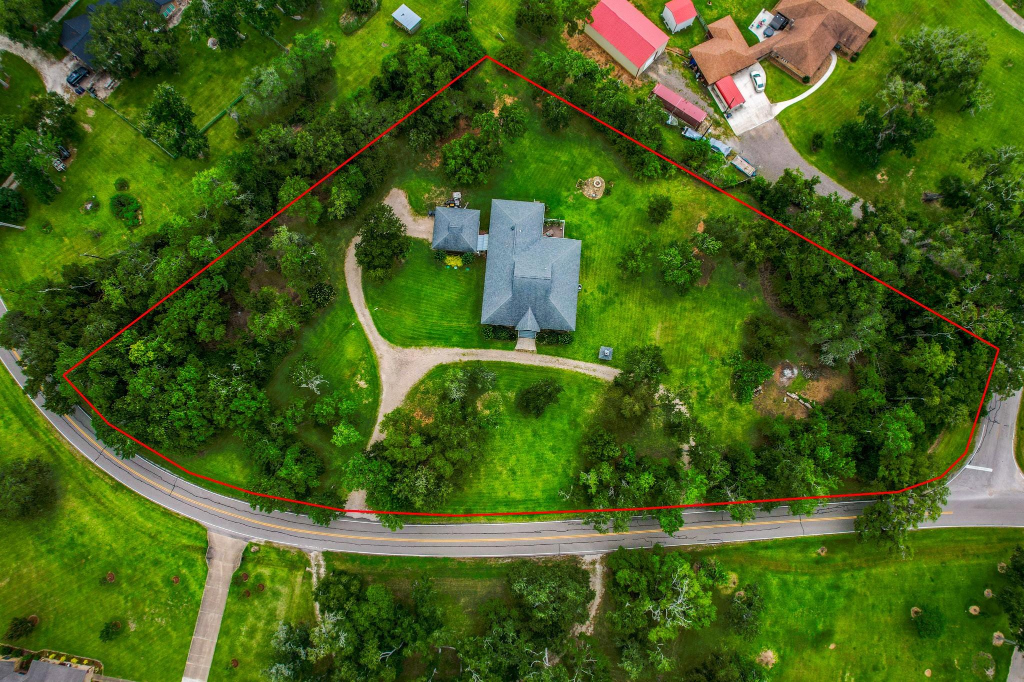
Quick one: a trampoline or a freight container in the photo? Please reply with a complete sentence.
Visible in the photo is a freight container.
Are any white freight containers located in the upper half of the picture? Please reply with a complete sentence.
No, no white freight container is visible in the upper half of the picture.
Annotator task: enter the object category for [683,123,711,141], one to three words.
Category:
boat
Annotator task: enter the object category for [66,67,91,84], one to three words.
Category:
car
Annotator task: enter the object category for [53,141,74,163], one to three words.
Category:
truck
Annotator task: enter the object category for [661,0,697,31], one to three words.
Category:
shed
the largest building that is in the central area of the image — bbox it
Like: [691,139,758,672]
[481,197,582,340]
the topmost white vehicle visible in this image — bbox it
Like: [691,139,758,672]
[750,69,764,91]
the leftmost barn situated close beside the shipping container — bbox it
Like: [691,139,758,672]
[584,0,669,76]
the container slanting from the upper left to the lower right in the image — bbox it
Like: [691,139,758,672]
[651,84,707,126]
